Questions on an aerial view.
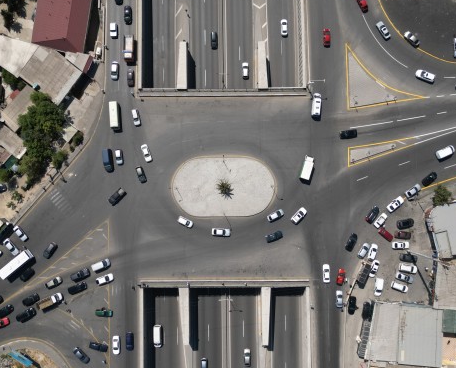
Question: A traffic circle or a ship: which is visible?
traffic circle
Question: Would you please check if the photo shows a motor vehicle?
Yes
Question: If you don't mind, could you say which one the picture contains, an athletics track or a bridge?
bridge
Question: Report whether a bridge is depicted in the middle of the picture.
Yes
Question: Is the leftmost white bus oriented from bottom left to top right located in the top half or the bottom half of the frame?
bottom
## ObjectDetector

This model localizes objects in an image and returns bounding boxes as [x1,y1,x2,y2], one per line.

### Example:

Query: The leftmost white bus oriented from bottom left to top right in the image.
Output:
[0,248,36,281]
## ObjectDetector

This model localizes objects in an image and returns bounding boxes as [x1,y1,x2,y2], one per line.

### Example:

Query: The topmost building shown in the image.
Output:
[31,0,96,54]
